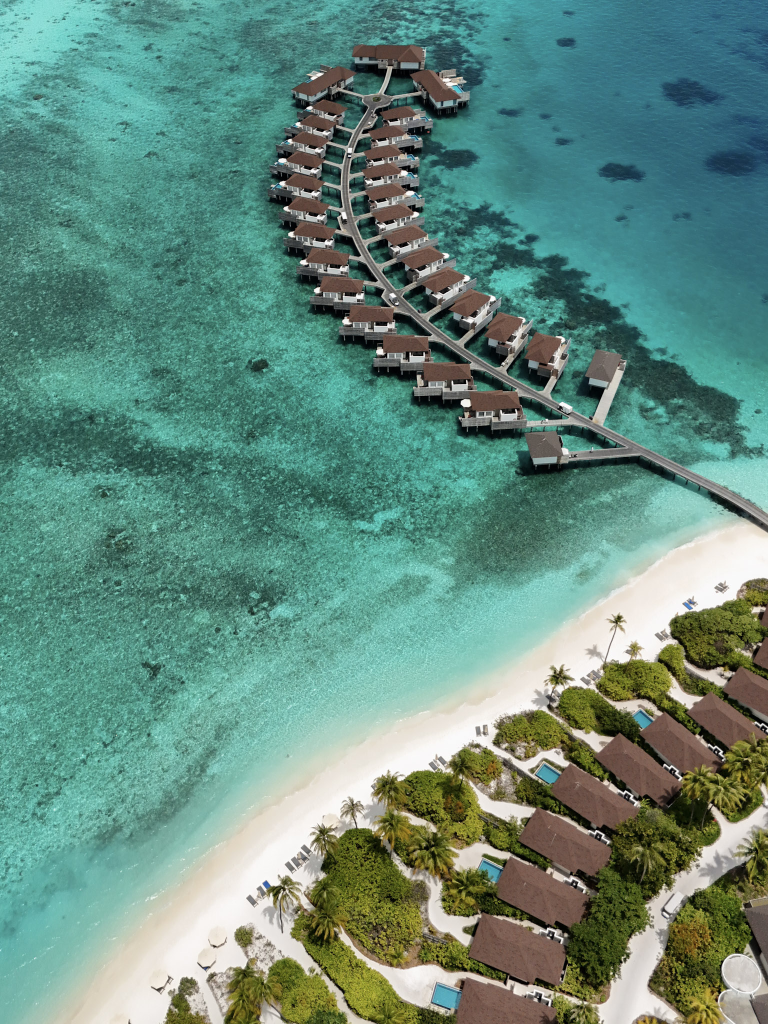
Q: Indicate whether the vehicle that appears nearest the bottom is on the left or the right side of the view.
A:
right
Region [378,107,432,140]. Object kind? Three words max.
house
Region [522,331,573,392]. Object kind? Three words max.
house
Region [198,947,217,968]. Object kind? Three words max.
umbrella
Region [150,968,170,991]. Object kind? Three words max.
umbrella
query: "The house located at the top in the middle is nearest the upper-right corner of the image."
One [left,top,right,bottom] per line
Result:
[409,67,471,122]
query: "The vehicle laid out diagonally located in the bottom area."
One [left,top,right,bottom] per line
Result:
[661,889,687,921]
